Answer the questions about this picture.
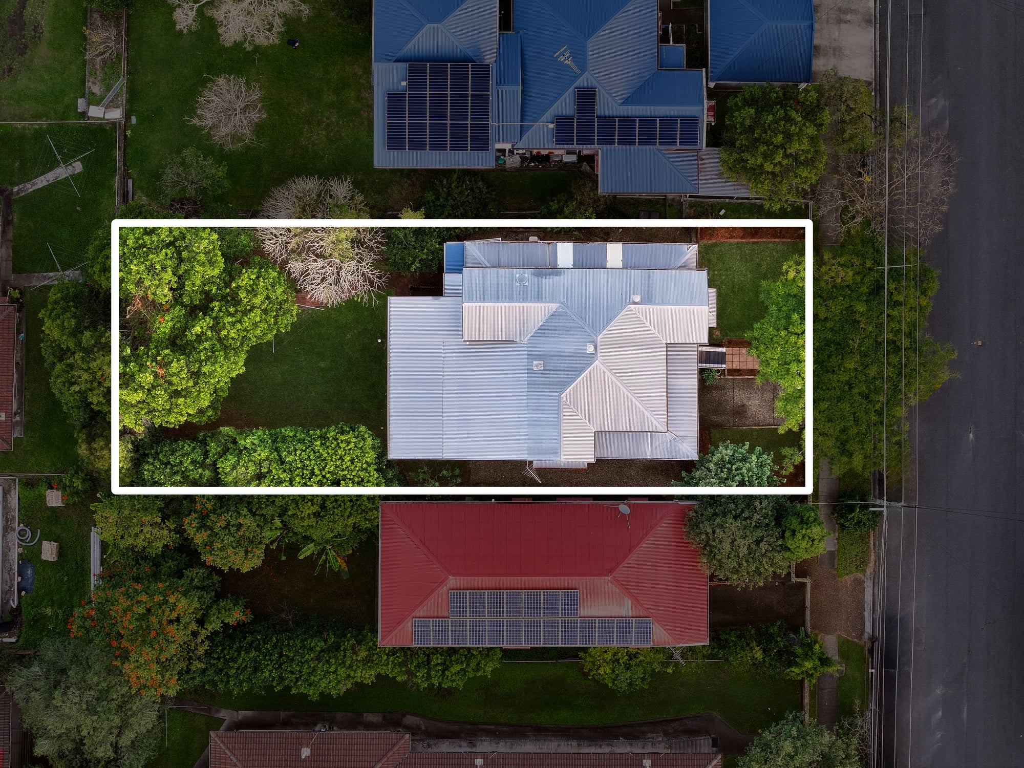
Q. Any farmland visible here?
No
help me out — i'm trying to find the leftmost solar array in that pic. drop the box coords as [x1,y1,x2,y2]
[385,63,491,151]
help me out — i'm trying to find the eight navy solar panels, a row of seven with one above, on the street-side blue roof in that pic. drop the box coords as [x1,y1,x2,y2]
[553,89,702,144]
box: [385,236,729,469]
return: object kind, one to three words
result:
house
